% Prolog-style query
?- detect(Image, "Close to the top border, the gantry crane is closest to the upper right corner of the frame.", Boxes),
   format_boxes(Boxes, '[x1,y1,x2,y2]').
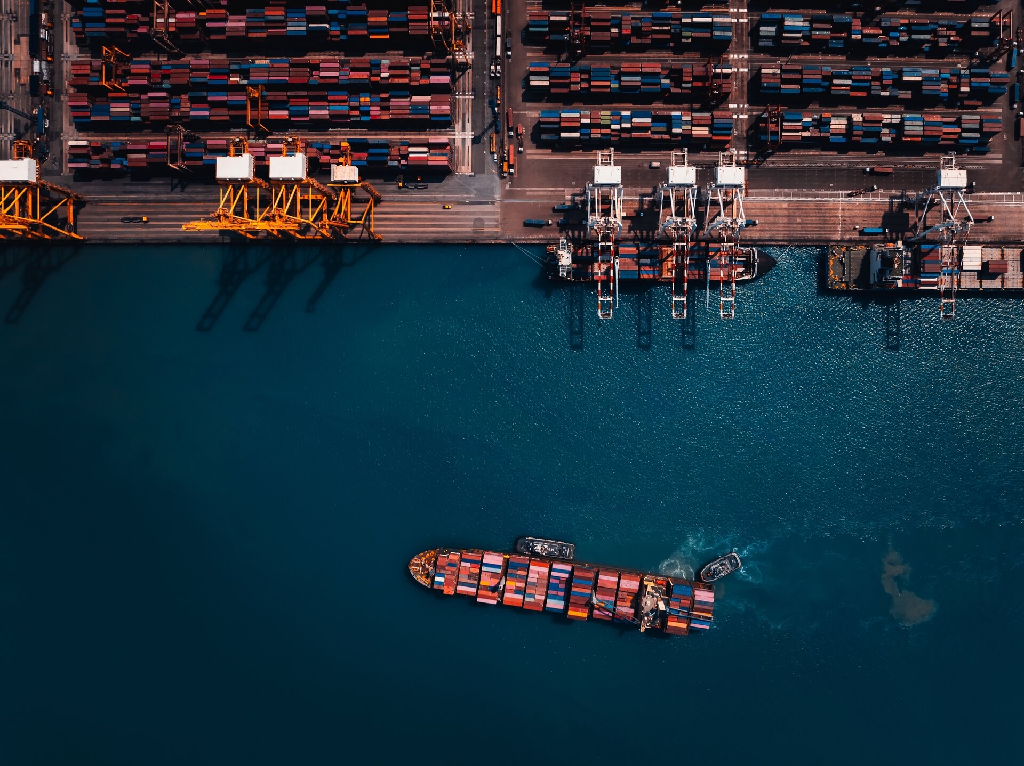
[975,9,1014,61]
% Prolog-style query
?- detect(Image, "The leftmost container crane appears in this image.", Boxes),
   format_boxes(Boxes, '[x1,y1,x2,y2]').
[0,144,88,242]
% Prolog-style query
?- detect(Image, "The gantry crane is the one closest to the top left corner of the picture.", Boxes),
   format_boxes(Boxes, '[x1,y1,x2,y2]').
[101,46,138,95]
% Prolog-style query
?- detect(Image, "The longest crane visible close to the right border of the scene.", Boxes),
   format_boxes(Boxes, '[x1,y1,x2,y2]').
[894,145,977,320]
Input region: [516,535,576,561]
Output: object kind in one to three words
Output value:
boat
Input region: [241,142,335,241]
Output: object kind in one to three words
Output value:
container crane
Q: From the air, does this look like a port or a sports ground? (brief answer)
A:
port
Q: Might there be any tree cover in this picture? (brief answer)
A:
No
